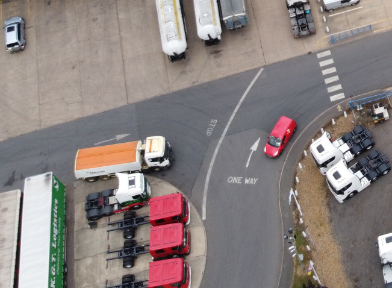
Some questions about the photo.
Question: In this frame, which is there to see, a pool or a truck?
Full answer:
The image shows a truck.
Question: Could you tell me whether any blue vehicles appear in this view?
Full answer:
No, I can't see a single blue vehicle in this photo.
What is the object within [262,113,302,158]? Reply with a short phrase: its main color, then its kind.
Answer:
red van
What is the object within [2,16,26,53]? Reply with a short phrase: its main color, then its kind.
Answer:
gray car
